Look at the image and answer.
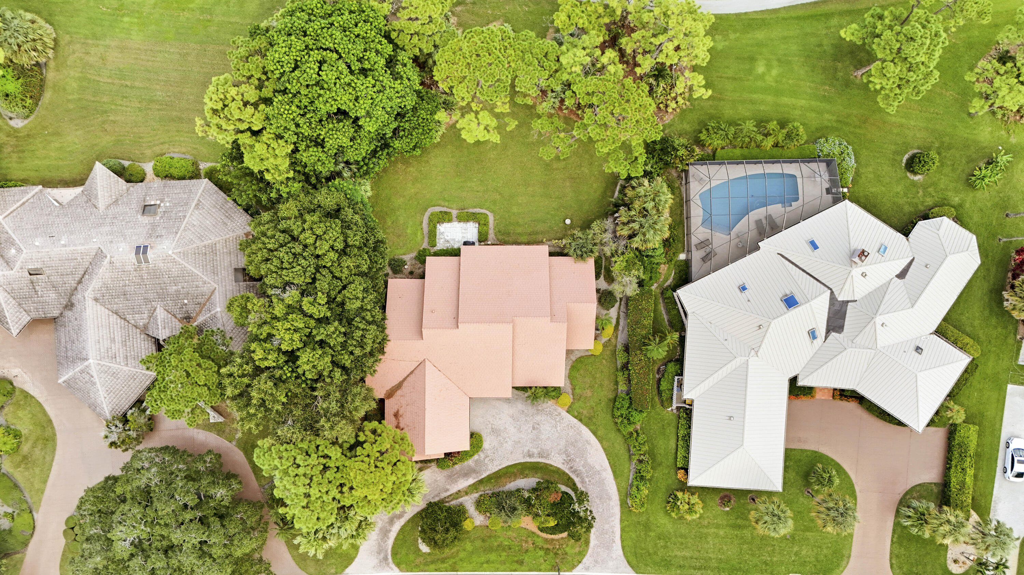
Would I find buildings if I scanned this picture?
Yes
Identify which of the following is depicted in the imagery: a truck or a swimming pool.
swimming pool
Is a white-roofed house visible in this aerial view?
Yes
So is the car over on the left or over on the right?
right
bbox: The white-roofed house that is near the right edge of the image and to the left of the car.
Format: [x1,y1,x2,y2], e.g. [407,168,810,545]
[677,199,982,493]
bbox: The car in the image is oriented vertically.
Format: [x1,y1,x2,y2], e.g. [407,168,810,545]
[1004,433,1024,480]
